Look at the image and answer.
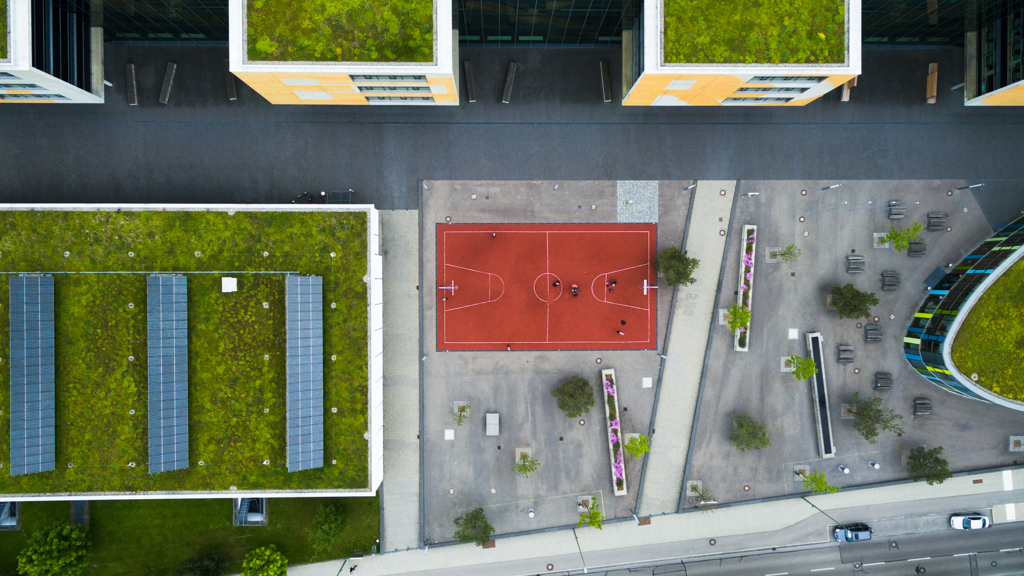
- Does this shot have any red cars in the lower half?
No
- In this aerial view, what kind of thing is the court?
basketball court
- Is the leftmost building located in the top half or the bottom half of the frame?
top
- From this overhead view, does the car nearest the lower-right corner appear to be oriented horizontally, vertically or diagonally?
horizontally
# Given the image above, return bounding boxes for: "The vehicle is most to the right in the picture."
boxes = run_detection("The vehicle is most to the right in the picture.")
[950,511,988,531]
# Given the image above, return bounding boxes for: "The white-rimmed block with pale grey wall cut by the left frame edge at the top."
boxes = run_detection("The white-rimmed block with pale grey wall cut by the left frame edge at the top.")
[0,0,105,104]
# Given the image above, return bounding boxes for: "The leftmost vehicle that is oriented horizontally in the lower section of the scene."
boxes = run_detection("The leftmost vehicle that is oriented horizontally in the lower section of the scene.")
[833,522,873,542]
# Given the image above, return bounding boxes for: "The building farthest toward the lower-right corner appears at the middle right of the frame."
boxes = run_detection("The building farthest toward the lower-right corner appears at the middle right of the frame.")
[903,216,1024,417]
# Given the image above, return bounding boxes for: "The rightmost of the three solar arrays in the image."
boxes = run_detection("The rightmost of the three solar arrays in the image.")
[286,276,323,472]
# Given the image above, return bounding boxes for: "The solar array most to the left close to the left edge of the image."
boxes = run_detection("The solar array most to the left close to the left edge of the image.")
[9,276,56,475]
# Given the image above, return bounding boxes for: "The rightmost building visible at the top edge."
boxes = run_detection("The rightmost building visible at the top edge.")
[964,10,1024,107]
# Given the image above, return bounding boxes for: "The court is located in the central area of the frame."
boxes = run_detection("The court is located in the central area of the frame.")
[436,223,658,351]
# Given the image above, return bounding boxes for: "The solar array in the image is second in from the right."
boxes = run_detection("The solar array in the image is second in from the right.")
[147,276,189,473]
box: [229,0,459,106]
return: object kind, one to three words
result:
building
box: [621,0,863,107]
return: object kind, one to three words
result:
building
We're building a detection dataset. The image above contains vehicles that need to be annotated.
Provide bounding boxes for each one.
[950,511,988,531]
[833,522,873,542]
